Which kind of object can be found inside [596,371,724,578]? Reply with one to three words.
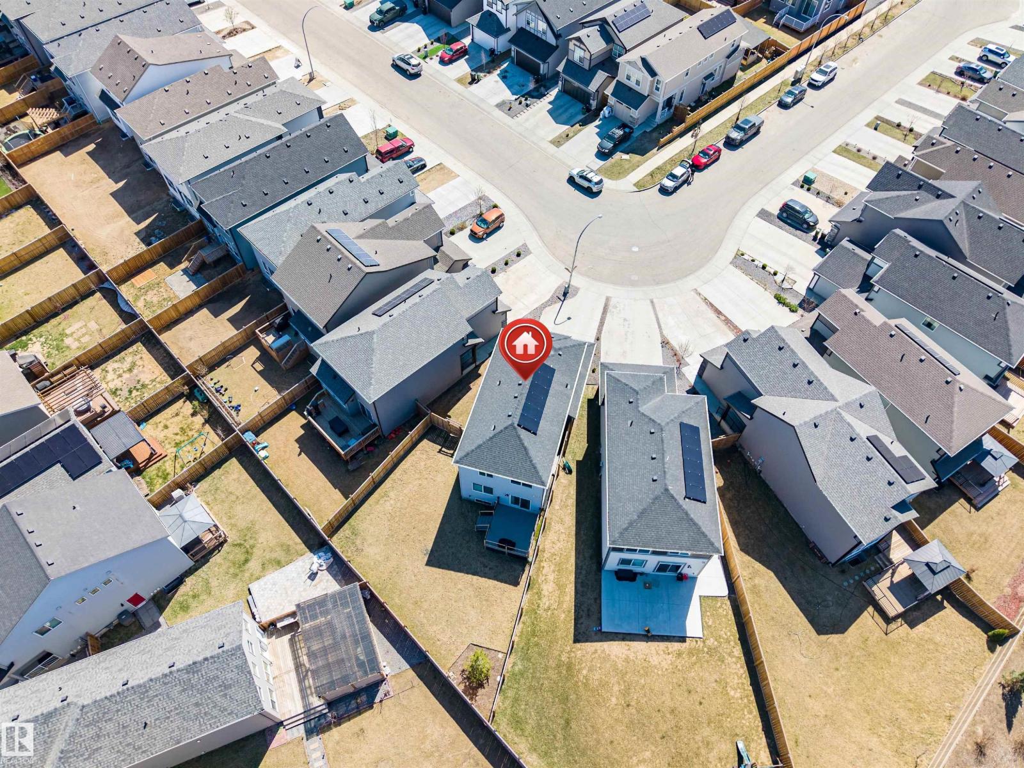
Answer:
house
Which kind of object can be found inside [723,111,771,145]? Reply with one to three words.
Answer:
truck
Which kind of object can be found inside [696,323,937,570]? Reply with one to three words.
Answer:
house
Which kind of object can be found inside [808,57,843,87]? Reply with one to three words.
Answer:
car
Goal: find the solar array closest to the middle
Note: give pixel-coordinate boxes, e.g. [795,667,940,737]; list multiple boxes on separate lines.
[517,363,556,435]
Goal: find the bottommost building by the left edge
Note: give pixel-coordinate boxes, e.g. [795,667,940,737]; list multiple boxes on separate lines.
[0,601,276,768]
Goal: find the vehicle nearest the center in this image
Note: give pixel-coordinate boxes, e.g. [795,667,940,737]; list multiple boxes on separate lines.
[467,207,510,240]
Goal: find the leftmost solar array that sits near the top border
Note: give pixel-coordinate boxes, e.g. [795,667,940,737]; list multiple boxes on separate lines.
[612,3,651,32]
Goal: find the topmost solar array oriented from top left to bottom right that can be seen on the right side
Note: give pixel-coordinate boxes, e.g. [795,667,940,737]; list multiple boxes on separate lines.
[895,324,960,375]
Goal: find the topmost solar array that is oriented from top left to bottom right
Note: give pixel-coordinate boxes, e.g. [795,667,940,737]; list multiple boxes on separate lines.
[326,229,379,266]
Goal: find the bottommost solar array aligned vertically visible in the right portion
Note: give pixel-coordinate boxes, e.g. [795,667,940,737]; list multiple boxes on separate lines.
[679,423,706,503]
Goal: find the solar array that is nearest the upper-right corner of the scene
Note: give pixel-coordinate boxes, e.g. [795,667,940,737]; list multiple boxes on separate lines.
[698,9,735,38]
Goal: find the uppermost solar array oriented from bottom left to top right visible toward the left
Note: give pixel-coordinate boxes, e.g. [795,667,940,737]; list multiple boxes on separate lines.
[373,278,433,317]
